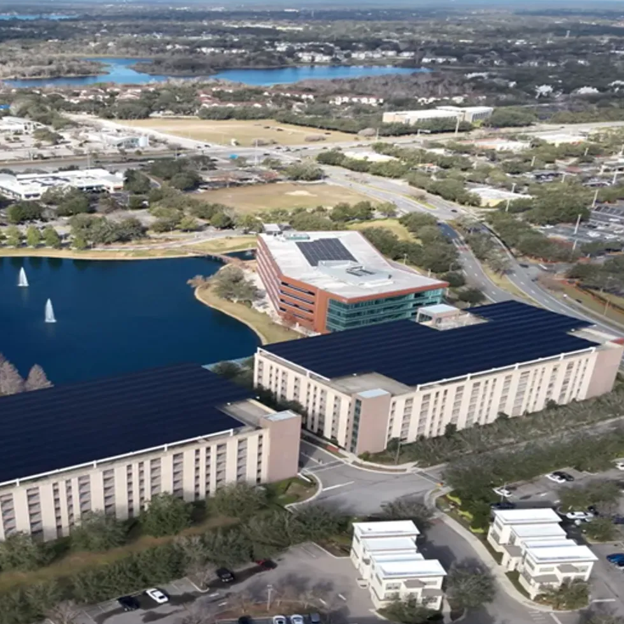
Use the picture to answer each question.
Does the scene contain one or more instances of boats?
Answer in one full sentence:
No, there isn't any boat down there.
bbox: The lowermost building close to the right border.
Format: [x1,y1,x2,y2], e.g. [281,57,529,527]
[490,507,598,598]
